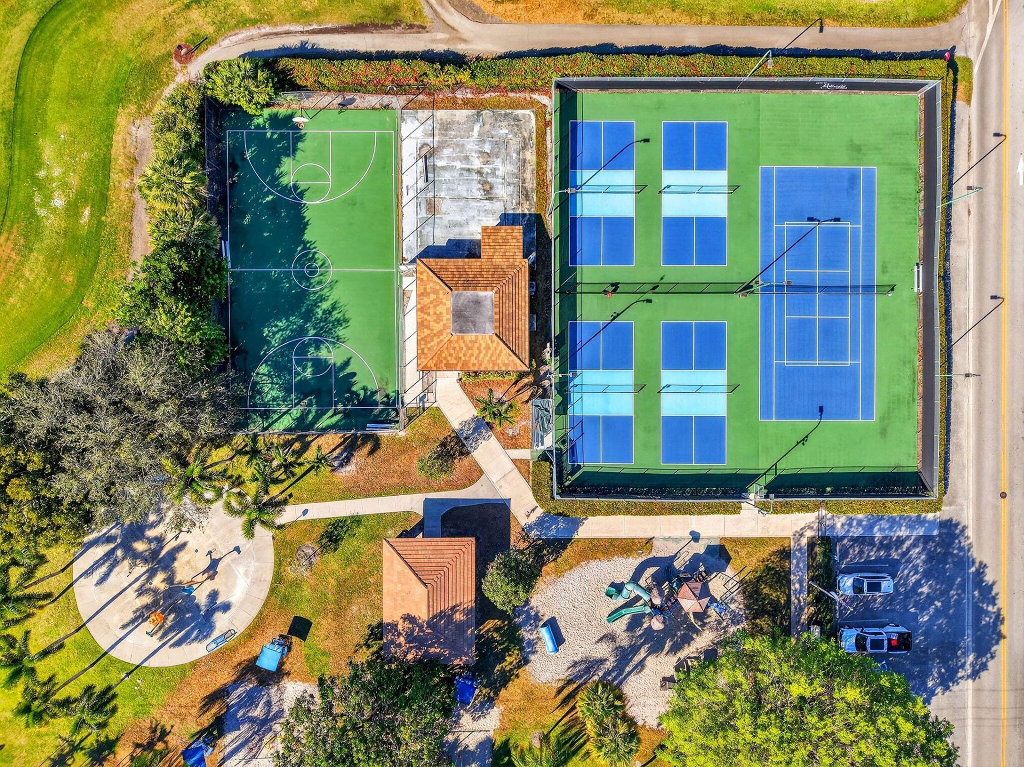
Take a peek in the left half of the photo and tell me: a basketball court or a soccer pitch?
basketball court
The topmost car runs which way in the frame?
from side to side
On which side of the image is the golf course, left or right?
left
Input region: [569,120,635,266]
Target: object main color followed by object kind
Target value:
blue sports court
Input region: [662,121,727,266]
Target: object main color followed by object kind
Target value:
blue sports court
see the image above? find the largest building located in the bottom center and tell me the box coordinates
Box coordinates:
[382,533,476,666]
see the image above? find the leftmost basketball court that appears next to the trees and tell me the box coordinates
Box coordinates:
[220,108,400,431]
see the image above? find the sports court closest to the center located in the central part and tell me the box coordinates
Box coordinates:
[568,321,634,464]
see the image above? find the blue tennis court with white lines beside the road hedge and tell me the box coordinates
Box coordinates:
[759,94,919,485]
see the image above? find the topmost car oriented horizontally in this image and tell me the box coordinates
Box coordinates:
[836,572,891,598]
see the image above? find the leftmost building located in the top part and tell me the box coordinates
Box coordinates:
[416,226,529,372]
